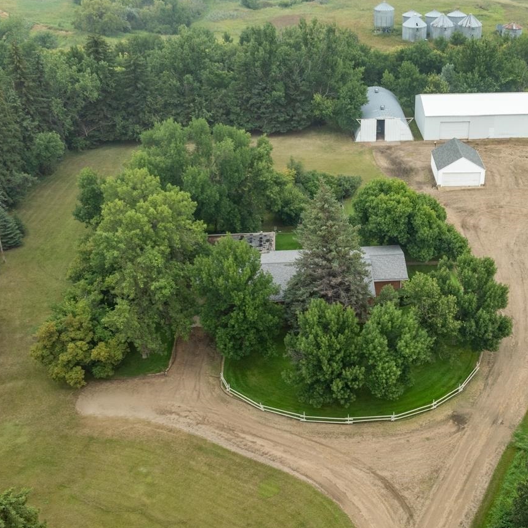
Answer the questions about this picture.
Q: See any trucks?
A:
No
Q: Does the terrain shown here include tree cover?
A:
Yes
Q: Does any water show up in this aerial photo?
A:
No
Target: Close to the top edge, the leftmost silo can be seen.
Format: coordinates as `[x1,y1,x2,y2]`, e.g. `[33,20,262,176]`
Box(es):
[373,0,394,31]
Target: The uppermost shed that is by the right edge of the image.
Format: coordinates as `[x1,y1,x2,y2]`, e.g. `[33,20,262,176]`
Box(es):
[415,91,528,140]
